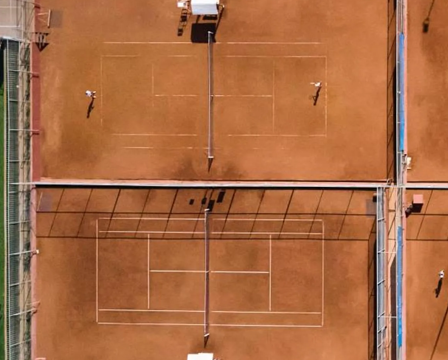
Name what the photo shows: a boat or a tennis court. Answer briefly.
tennis court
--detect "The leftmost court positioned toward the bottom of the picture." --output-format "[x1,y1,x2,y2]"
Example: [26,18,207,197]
[36,185,385,360]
